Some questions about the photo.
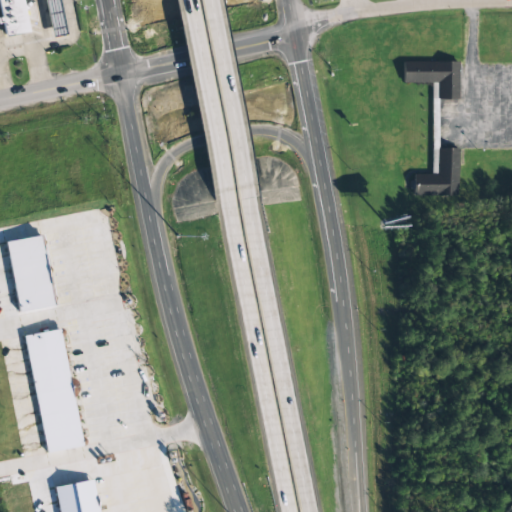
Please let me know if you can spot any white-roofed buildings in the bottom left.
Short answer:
Yes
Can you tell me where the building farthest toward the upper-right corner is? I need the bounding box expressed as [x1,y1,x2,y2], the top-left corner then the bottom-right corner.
[404,60,461,99]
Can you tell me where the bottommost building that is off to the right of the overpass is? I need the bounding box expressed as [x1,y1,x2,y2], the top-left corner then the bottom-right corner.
[414,148,461,196]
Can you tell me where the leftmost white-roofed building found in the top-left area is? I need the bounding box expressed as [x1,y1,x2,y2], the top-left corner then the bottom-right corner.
[0,0,32,35]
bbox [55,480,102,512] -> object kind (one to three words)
building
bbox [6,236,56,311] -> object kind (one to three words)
building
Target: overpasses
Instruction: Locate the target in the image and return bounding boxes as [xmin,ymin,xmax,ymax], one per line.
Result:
[180,0,261,202]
